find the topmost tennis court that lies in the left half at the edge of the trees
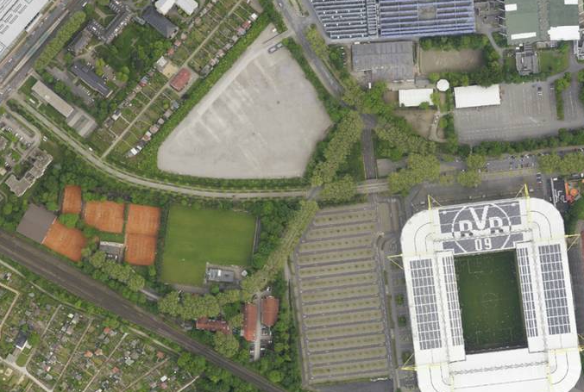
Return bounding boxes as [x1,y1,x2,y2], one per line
[62,185,81,212]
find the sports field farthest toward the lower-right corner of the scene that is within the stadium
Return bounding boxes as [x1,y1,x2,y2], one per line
[453,248,527,351]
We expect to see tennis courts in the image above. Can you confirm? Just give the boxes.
[84,201,124,233]
[124,236,157,265]
[42,219,86,260]
[126,205,159,236]
[62,185,81,212]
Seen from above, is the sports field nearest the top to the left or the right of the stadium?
left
